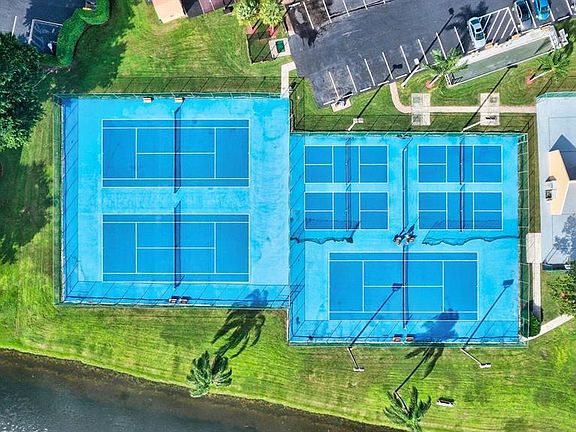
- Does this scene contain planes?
No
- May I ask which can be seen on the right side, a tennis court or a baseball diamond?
tennis court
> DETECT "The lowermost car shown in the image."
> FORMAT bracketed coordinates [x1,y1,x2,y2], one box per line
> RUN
[467,18,486,51]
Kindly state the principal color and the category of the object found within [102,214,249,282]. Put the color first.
blue tennis court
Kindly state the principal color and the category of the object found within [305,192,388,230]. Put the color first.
blue sports court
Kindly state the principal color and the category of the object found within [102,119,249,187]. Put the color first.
blue tennis court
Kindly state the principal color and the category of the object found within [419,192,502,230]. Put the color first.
blue sports court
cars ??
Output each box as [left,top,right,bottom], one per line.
[467,18,486,51]
[530,0,549,22]
[509,0,529,28]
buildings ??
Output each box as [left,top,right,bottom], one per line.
[151,0,186,22]
[550,147,576,215]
